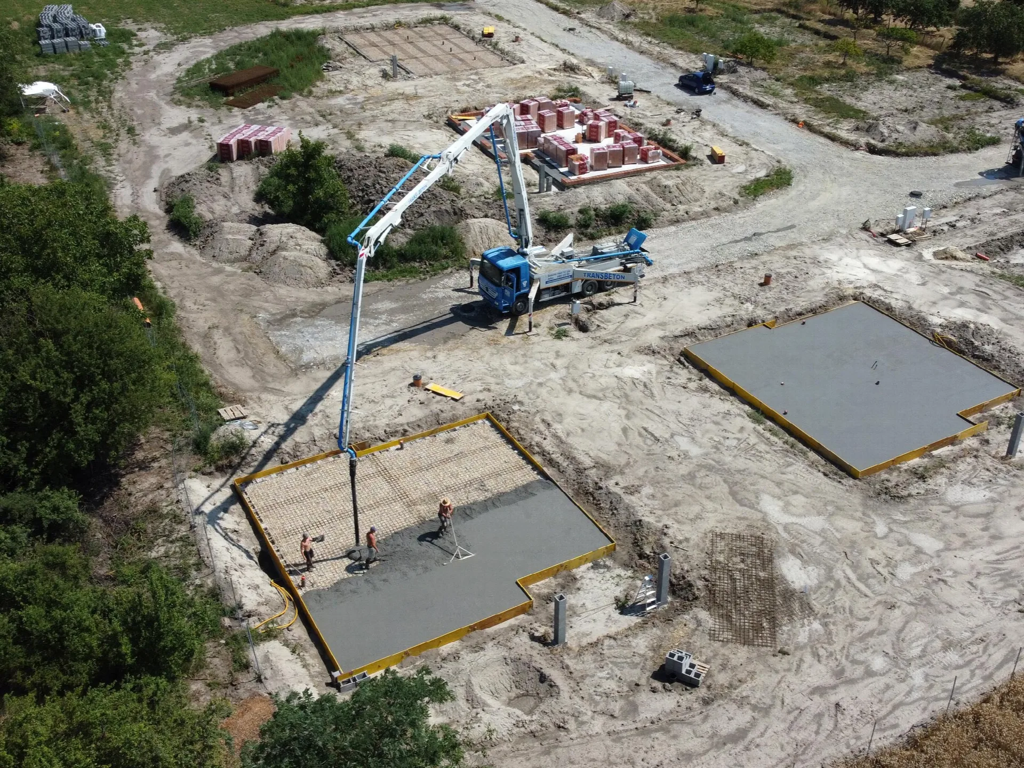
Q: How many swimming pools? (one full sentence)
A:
I count no swimming pools.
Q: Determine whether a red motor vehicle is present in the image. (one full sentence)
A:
No, the scene contains no red motor vehicle.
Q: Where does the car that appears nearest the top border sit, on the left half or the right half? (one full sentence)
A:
The car that appears nearest the top border appears in the right half of the scene.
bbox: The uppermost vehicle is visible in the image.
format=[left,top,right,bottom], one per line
[678,68,721,93]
